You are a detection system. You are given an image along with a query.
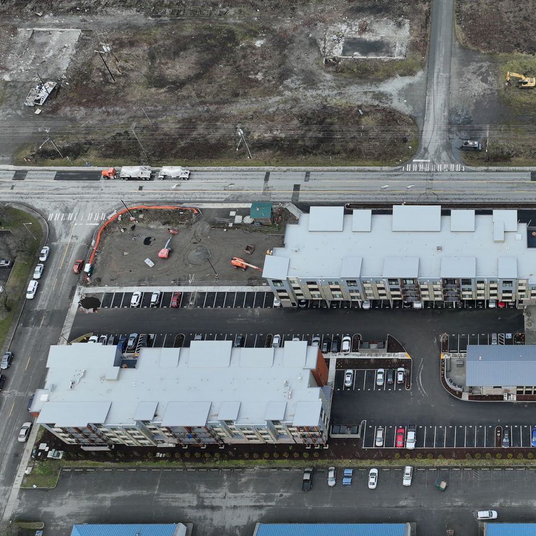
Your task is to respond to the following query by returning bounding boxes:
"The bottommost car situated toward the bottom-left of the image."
[17,423,32,442]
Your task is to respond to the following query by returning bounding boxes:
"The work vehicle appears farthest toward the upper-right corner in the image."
[500,70,536,87]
